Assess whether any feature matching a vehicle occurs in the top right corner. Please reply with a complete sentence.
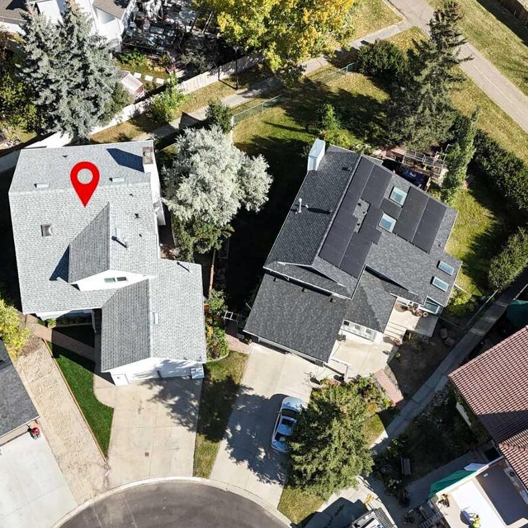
No, looking in the top right corner, there is no vehicle.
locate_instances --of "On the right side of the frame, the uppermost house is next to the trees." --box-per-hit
[242,138,463,374]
